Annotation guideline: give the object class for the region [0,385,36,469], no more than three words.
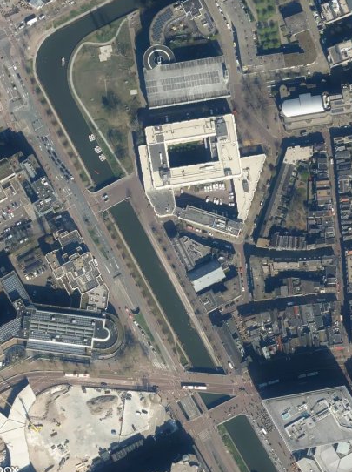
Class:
building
